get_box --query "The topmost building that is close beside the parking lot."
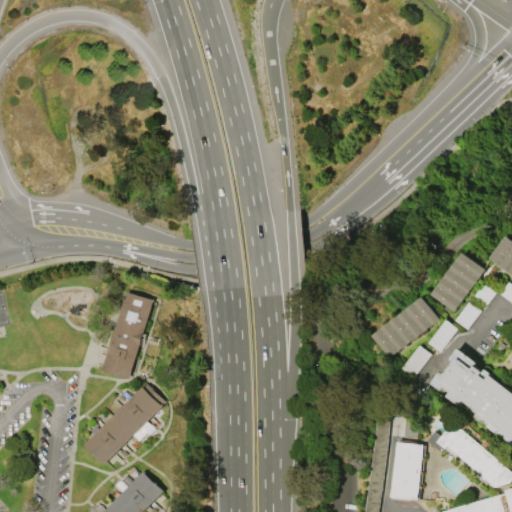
[103,292,156,377]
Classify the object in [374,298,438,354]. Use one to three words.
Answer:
building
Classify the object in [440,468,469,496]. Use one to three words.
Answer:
swimming pool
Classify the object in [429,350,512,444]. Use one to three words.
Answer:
building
